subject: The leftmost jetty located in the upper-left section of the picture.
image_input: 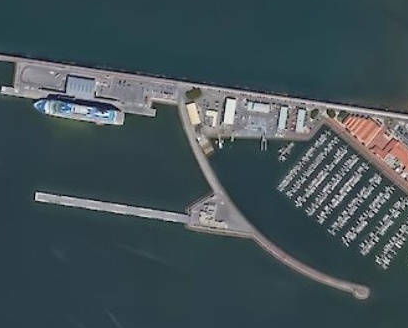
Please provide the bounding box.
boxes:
[0,63,181,117]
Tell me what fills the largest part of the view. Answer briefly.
water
